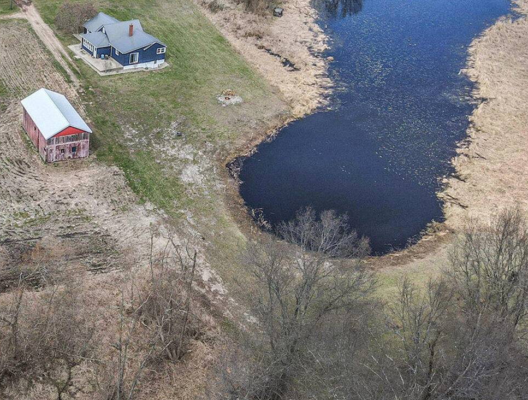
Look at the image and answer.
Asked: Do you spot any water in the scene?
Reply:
Yes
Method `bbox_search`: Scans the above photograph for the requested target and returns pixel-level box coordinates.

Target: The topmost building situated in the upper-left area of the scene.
[62,12,172,77]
